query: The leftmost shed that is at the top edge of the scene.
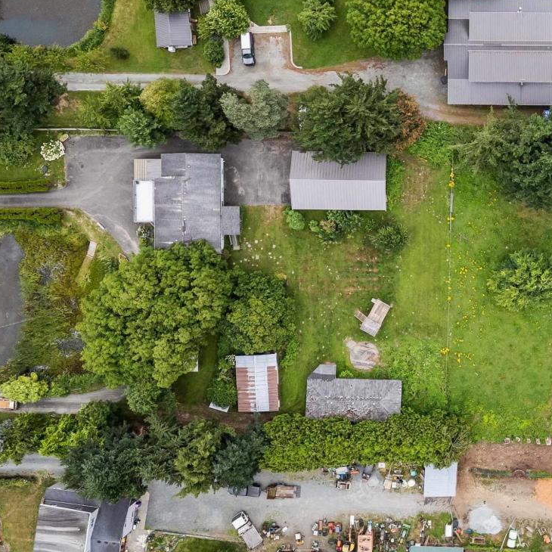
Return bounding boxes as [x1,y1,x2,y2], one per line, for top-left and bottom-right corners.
[155,9,196,48]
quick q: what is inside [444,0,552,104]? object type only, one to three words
barn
